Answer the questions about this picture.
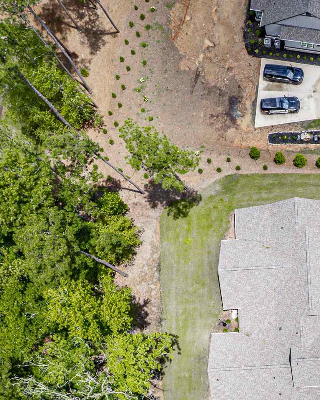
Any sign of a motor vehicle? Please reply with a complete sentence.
Yes, a motor vehicle appears in the view.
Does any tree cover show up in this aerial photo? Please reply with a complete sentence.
Yes, tree cover shows up in the scene.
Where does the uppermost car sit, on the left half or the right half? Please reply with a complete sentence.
The uppermost car is on the right side of the image.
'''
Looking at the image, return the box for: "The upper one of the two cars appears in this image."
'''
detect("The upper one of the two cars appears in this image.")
[269,59,307,82]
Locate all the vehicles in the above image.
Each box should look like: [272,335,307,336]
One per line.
[269,59,307,82]
[262,96,298,115]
